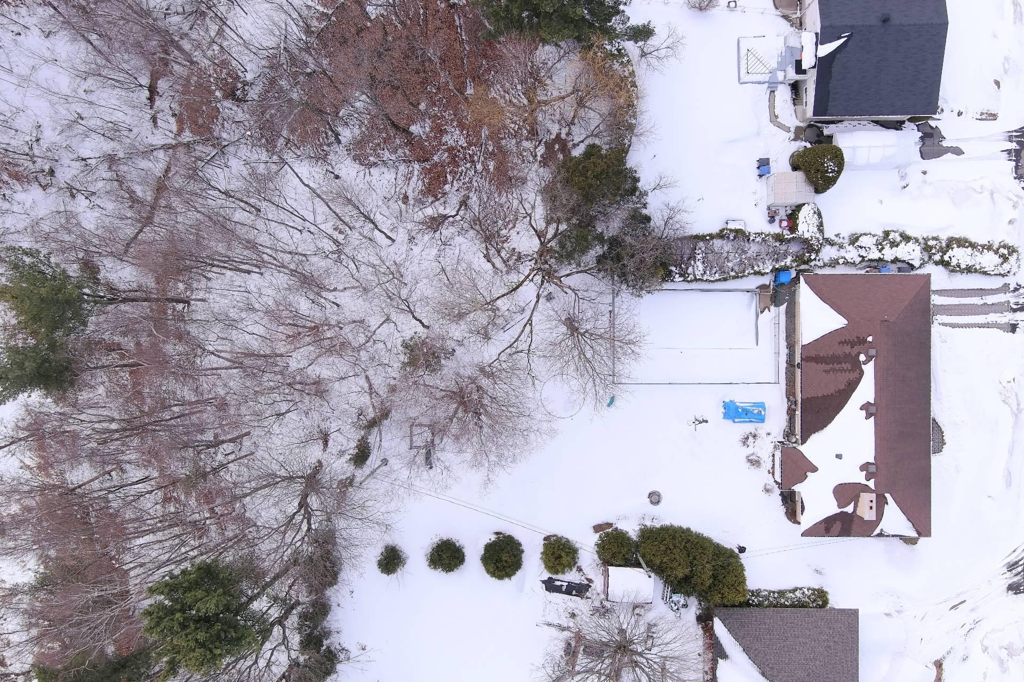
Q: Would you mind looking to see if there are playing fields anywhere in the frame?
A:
No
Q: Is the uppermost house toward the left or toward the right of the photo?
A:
right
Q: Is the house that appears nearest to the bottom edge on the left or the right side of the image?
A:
right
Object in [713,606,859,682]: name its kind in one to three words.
house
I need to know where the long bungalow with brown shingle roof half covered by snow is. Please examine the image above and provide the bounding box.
[775,272,933,540]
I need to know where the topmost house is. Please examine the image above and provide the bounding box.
[801,0,948,121]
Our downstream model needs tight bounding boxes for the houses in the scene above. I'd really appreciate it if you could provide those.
[713,606,859,682]
[775,272,933,540]
[801,0,948,121]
